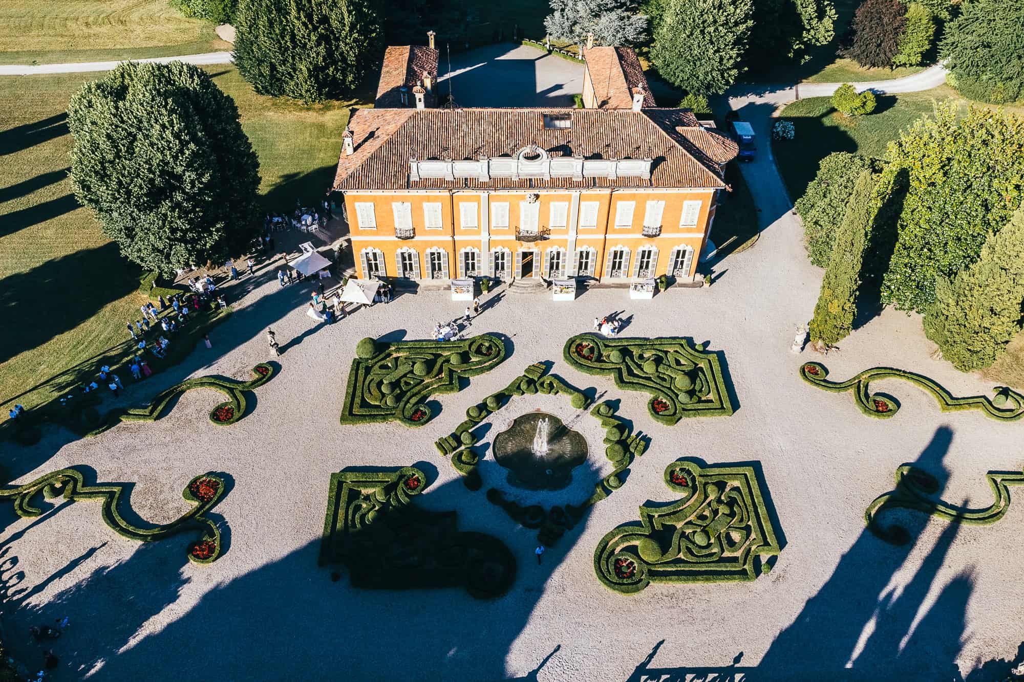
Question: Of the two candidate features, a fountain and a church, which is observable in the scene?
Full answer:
Visible in the photo is a fountain.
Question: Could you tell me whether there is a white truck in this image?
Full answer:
No, I can see no white truck in this picture.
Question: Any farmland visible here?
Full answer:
No, no farmland is visible.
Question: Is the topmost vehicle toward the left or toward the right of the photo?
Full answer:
It is on the right.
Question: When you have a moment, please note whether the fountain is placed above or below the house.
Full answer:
As seen from overhead, the fountain falls below the house in the picture.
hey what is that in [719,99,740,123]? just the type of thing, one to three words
vehicle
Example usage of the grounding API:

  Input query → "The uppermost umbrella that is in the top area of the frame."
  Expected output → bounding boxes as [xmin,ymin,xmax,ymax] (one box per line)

[286,249,332,285]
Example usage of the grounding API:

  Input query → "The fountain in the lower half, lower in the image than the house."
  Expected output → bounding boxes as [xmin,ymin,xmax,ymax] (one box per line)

[492,412,589,493]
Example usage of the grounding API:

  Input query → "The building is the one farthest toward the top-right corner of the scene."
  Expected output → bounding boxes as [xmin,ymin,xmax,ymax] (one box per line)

[328,17,740,296]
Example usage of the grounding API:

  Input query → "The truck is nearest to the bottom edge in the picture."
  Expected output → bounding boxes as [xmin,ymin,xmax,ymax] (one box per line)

[730,122,758,162]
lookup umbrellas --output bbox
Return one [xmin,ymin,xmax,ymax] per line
[286,249,332,285]
[339,278,383,314]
